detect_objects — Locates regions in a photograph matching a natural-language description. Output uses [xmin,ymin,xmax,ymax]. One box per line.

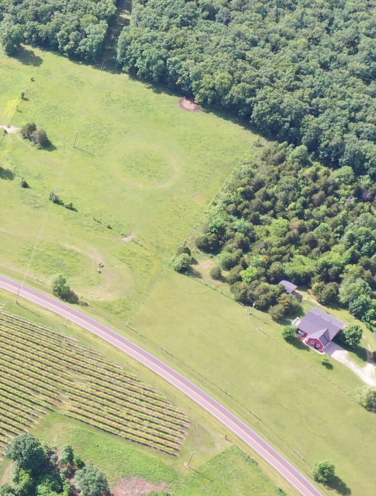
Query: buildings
[278,280,305,297]
[293,308,347,351]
